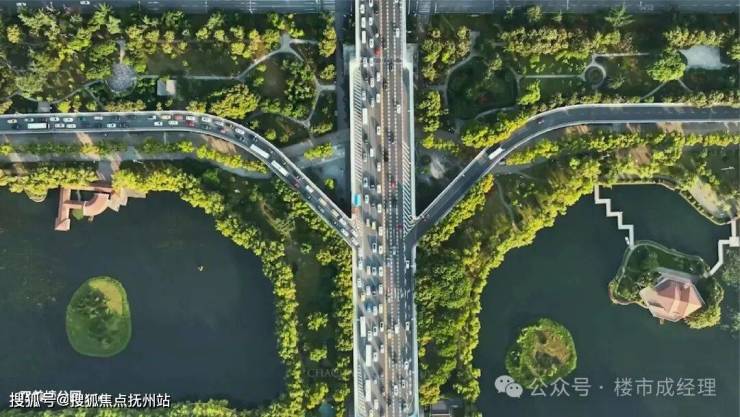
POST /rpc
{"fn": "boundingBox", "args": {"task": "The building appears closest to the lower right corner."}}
[639,268,706,325]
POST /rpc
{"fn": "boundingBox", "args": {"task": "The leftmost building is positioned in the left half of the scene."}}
[53,179,113,232]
